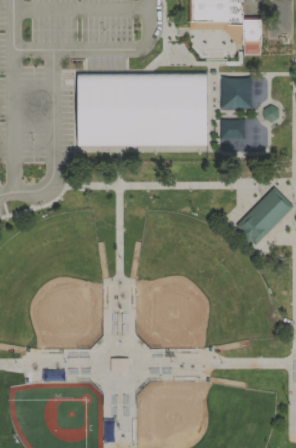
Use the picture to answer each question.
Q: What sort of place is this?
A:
sports ground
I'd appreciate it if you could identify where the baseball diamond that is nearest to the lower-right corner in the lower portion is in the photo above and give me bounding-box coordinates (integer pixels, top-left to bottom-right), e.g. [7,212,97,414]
[138,378,278,448]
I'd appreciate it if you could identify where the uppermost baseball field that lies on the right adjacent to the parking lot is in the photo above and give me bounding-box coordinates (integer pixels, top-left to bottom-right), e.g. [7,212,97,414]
[132,210,276,350]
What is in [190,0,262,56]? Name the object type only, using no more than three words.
building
